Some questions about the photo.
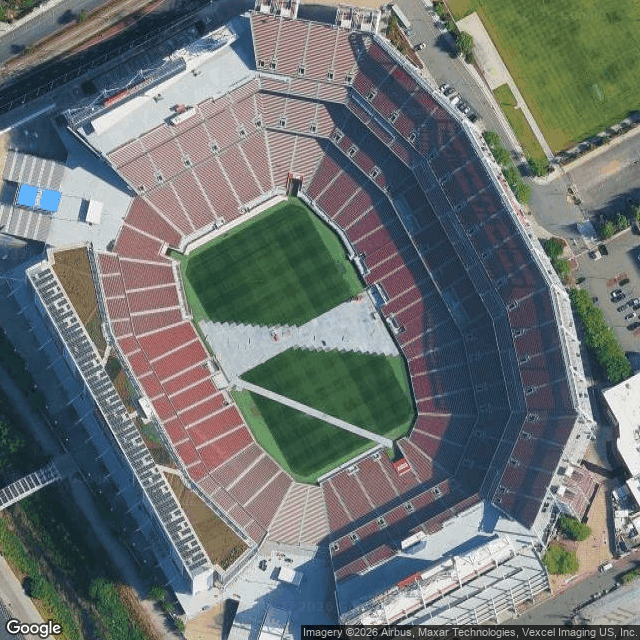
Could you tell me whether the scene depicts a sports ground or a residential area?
sports ground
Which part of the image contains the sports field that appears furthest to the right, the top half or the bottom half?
top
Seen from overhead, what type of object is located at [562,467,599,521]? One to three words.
building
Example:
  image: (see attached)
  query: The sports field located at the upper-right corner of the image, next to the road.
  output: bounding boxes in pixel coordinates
[481,0,640,141]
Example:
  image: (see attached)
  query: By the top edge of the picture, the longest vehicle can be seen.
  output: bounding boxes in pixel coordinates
[392,6,413,34]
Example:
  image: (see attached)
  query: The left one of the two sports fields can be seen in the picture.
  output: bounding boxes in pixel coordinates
[188,200,413,476]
